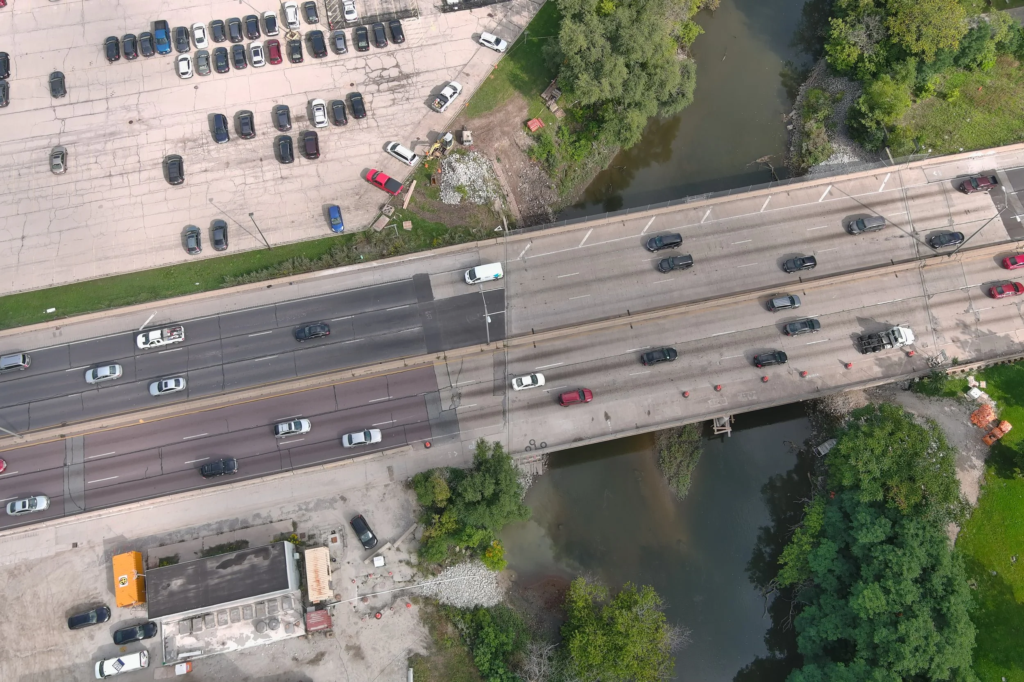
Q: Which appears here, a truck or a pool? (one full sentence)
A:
Looking from above, you can make out a truck.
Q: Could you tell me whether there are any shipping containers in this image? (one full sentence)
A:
Yes, there is a shipping container in the image.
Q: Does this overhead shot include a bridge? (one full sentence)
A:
Yes, the image includes a bridge.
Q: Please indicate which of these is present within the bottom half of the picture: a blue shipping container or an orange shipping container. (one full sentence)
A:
Looking within the bottom half of the picture, you will find an orange shipping container.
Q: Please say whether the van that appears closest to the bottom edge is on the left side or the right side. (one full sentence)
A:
You can find the van that appears closest to the bottom edge on the left side of the picture.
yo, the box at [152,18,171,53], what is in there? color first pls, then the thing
blue vehicle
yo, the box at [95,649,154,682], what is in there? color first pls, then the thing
white van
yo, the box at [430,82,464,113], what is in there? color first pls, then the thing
white truck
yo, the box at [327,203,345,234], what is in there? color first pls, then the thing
blue car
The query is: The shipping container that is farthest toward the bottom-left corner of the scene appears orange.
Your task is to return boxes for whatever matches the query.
[113,551,147,609]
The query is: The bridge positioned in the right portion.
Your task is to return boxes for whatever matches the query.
[501,165,946,463]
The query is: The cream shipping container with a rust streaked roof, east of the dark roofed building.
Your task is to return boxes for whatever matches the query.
[305,547,334,603]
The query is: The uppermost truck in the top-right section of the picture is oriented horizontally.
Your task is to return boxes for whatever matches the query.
[957,174,1002,195]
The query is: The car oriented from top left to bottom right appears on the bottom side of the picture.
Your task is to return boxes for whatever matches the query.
[347,512,379,551]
